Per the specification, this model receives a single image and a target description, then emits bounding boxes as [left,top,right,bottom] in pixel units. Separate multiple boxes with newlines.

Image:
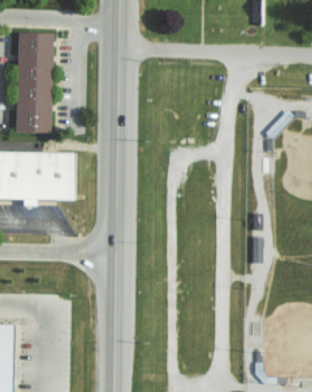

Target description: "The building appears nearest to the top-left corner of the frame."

[16,33,54,133]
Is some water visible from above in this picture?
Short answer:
No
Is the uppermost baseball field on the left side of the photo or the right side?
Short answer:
right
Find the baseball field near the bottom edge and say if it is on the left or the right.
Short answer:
right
